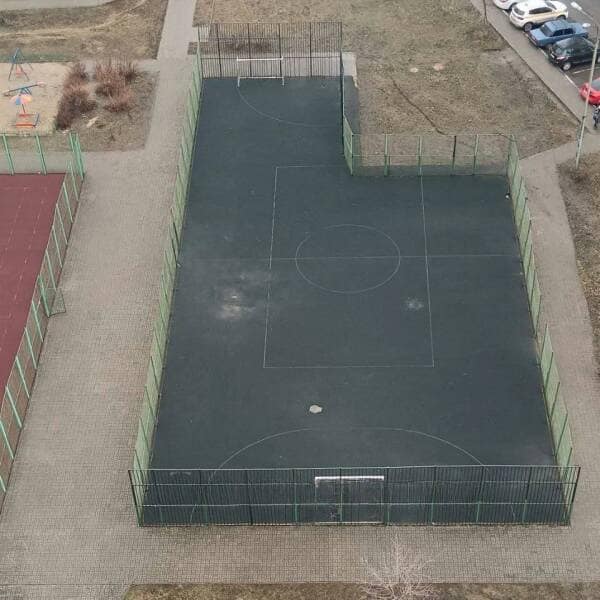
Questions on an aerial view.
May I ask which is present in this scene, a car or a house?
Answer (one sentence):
Of the two, only a car appears.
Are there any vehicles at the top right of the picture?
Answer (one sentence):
Yes, a vehicle appears at the top right of the picture.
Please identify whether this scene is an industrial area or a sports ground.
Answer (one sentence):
It's a sports ground.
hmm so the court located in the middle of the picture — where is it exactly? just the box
[136,77,571,526]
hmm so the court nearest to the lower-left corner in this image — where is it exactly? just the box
[0,172,84,508]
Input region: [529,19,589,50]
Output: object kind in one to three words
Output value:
car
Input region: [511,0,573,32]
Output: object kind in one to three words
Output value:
car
